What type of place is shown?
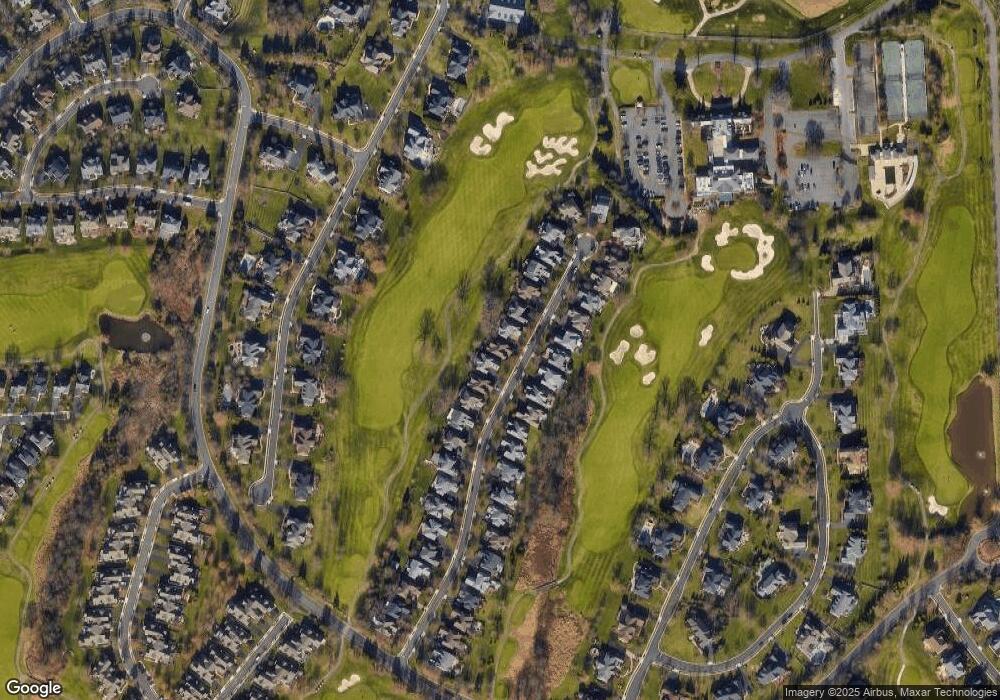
residential area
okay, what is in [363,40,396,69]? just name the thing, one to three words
house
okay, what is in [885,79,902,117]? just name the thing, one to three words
tennis court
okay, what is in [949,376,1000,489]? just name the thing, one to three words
pond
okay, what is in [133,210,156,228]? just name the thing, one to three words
house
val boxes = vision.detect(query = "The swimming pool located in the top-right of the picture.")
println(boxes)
[869,156,919,209]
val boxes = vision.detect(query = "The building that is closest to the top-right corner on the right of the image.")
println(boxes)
[870,144,905,158]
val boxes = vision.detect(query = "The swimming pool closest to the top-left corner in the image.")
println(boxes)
[318,18,334,33]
